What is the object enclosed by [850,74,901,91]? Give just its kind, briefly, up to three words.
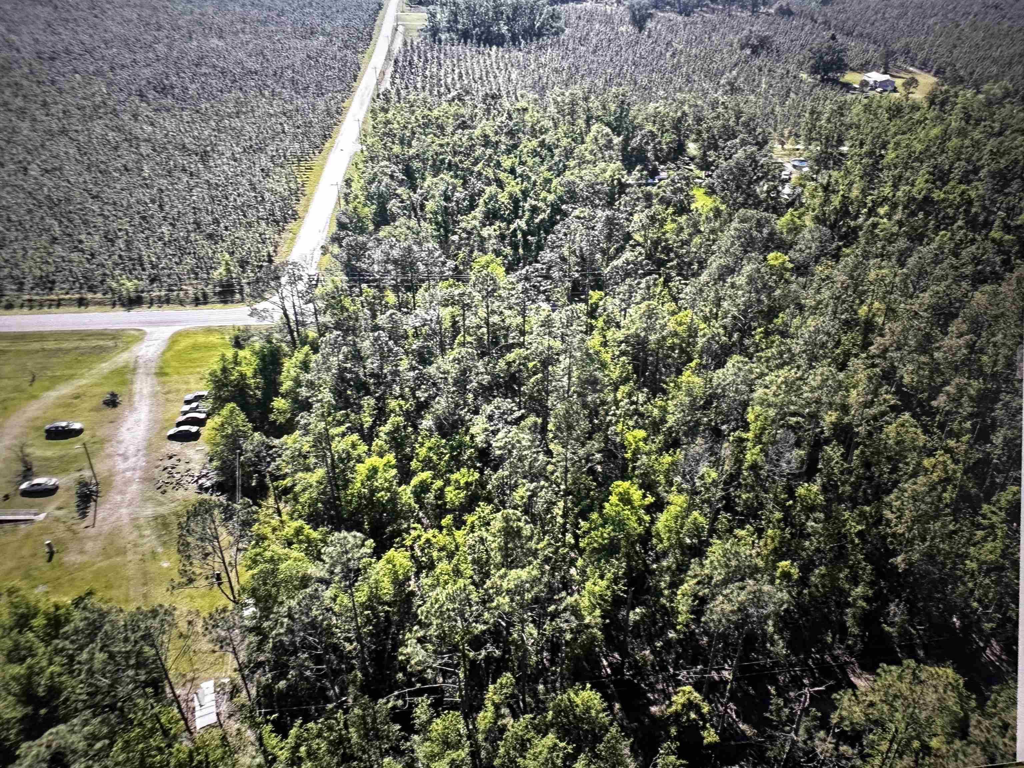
house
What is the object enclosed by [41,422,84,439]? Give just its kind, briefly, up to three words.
car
